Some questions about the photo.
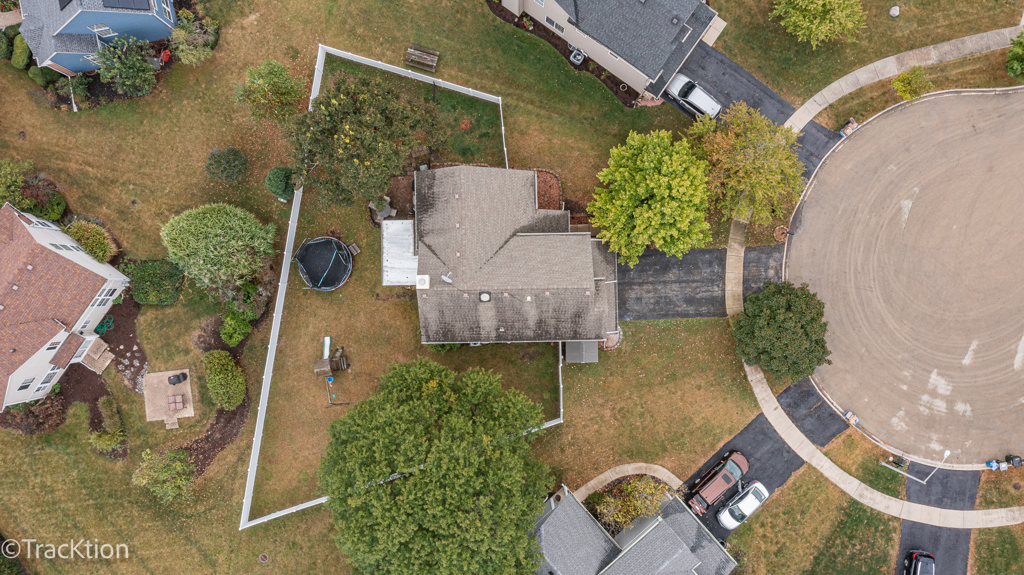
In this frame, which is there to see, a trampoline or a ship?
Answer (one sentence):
Looking from above, you can make out a trampoline.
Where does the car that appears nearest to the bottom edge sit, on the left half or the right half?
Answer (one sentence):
You can find the car that appears nearest to the bottom edge on the right side of the picture.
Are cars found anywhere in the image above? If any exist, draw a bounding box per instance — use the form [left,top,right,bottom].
[904,553,935,575]
[717,481,771,531]
[669,73,725,120]
[687,446,751,516]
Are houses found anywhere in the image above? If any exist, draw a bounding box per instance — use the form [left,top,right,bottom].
[526,486,739,575]
[0,201,130,413]
[500,0,719,107]
[16,0,176,78]
[413,165,620,348]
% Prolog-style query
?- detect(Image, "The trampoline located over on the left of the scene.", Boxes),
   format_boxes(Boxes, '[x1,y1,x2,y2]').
[291,236,355,293]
